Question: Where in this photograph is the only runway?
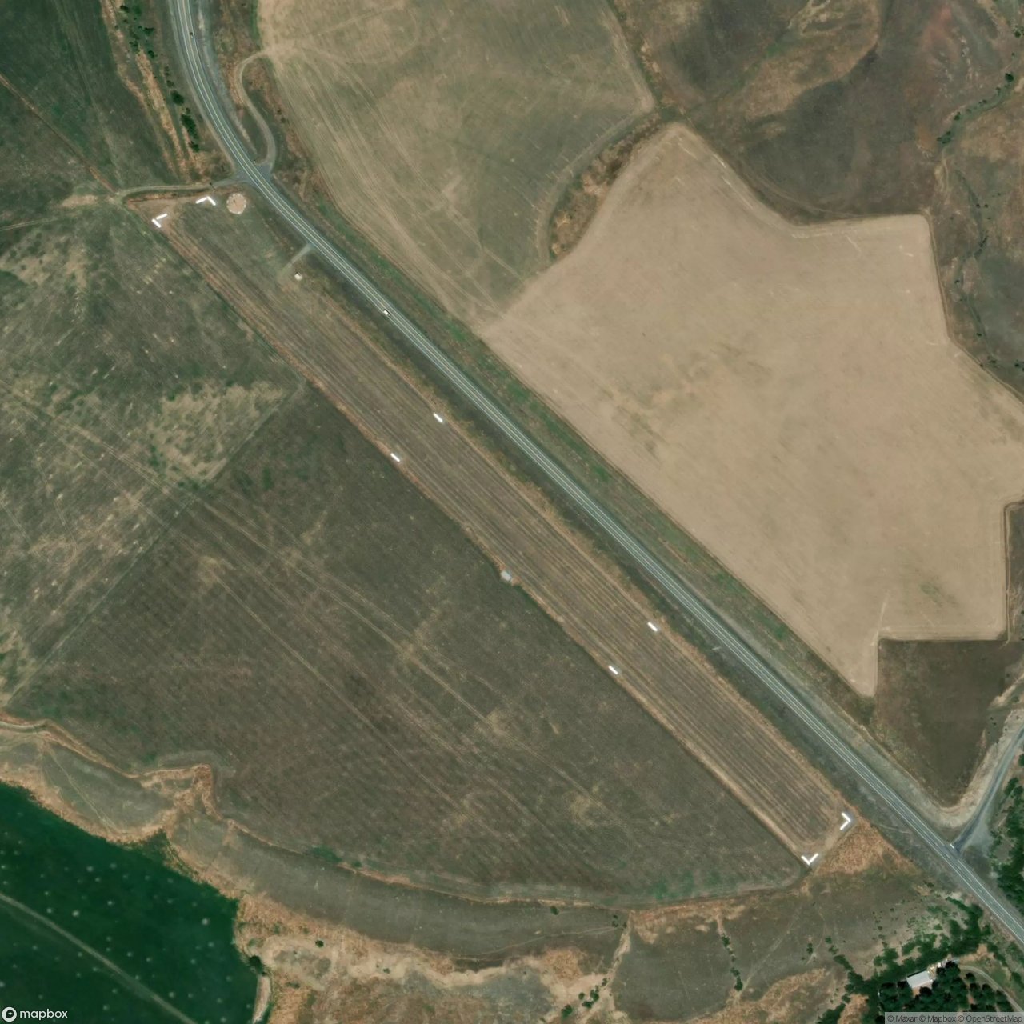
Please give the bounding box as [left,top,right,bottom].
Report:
[128,191,856,869]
